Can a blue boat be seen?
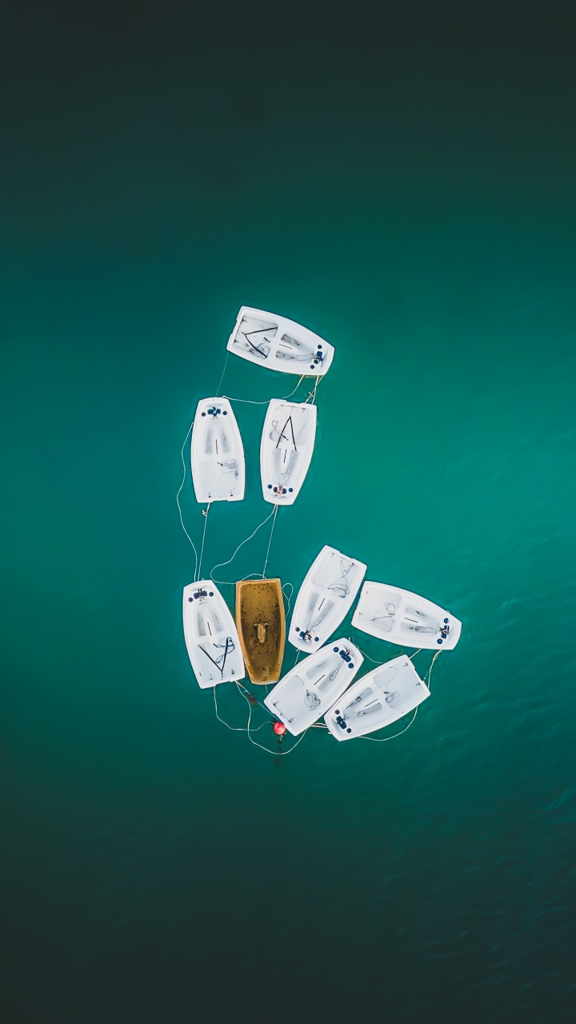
No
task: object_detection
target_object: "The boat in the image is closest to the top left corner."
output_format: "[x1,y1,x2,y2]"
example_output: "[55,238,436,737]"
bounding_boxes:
[228,307,333,376]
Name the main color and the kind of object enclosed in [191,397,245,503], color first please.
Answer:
white boat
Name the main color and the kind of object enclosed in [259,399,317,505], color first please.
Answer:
white boat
